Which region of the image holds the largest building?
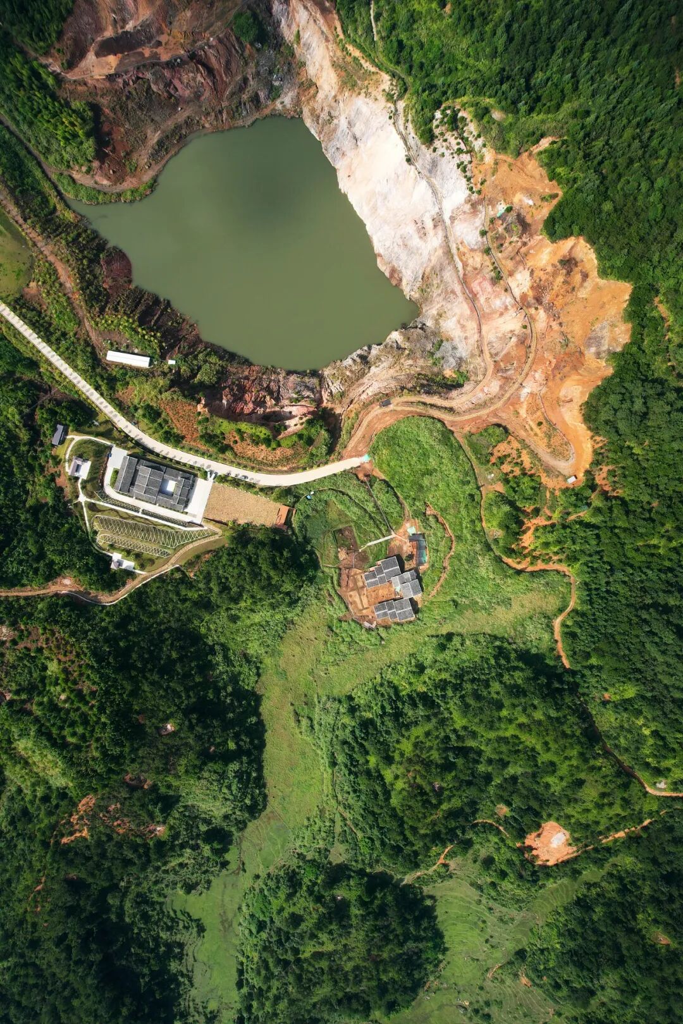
left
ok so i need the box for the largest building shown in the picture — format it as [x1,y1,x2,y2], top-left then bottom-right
[114,456,193,510]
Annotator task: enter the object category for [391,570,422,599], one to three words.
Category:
house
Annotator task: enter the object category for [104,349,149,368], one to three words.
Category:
shed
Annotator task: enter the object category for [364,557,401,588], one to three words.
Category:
house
